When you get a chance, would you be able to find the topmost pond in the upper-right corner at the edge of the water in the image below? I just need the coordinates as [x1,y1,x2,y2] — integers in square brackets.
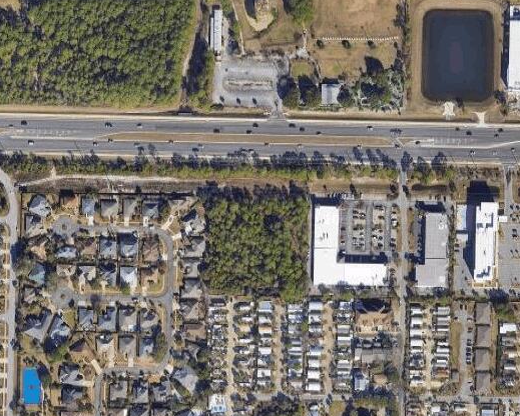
[422,10,495,103]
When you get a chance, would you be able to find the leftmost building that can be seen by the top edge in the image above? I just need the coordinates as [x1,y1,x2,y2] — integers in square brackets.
[210,10,223,54]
